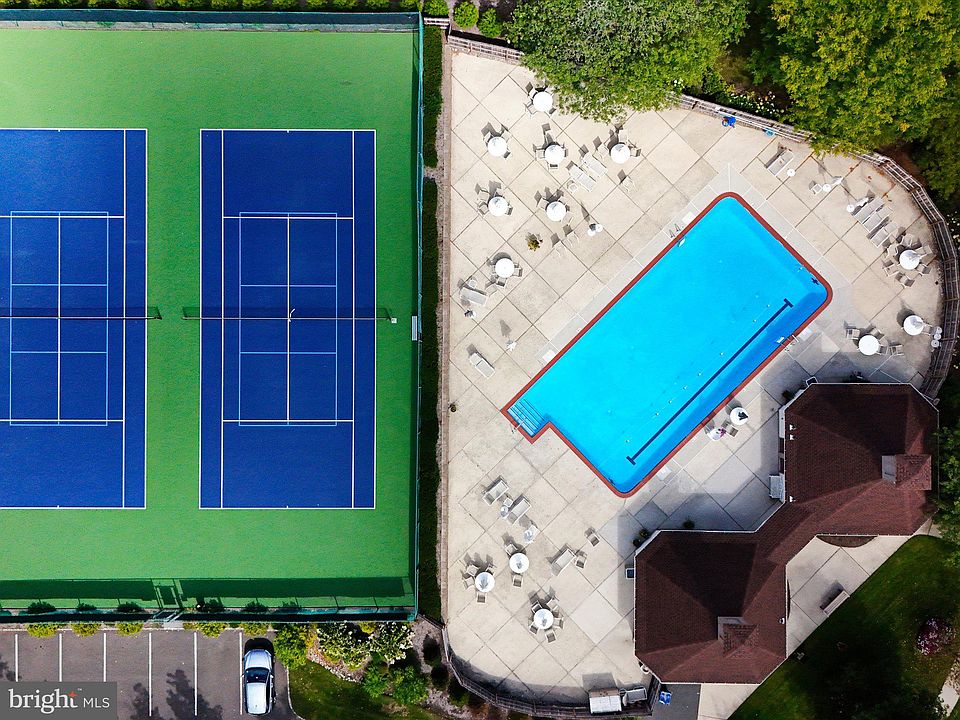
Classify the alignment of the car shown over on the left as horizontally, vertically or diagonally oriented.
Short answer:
vertically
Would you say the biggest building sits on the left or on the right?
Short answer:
right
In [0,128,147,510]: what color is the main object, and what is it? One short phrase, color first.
blue tennis court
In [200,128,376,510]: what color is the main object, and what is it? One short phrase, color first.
blue tennis court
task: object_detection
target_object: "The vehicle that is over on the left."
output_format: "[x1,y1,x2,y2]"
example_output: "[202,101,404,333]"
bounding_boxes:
[239,645,276,719]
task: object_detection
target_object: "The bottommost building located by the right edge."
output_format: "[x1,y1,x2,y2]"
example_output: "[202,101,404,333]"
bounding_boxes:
[634,383,939,683]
